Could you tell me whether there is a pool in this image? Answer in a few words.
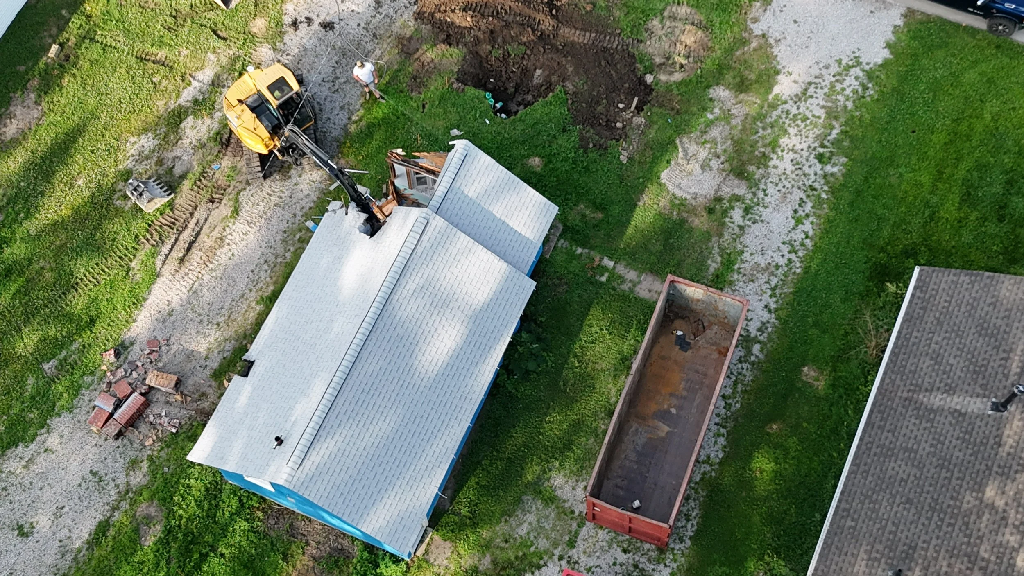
No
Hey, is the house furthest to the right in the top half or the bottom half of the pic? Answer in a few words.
bottom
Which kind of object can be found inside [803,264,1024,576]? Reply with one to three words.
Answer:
house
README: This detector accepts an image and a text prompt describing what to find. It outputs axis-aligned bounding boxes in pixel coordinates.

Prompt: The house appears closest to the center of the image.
[187,139,561,561]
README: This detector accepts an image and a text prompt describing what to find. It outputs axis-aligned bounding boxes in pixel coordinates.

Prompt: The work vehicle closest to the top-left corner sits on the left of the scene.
[225,63,383,238]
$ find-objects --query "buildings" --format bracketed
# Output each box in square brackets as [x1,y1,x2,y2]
[0,0,32,41]
[803,264,1024,576]
[187,139,561,561]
